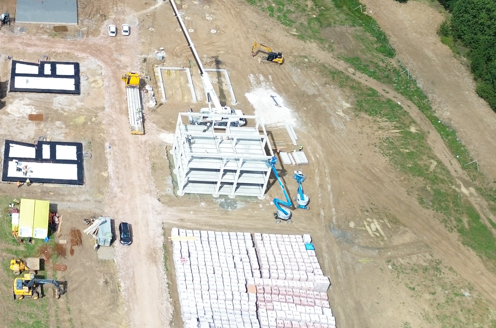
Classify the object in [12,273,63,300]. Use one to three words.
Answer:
work vehicle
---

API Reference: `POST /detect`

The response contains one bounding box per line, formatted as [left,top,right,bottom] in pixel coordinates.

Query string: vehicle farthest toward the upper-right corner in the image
[250,41,284,66]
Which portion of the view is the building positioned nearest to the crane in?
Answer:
center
